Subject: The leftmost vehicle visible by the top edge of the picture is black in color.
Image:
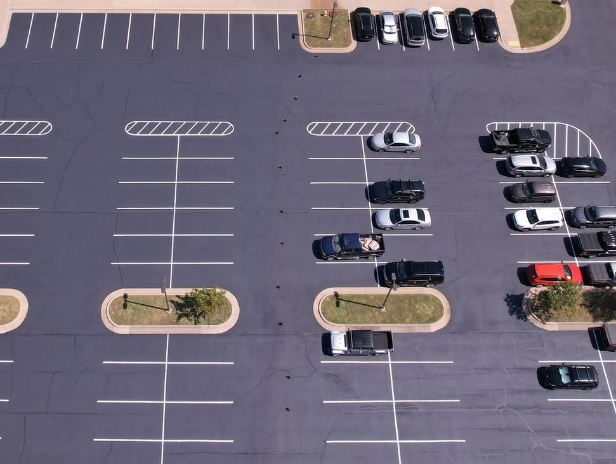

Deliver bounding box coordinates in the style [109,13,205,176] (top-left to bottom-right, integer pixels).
[352,6,375,43]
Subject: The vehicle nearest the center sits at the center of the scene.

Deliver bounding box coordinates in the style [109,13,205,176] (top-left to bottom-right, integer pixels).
[321,232,384,258]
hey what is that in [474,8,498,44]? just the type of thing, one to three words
car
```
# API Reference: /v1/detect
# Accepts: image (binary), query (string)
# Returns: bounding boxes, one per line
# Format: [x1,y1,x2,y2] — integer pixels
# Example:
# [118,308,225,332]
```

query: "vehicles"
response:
[538,362,599,391]
[376,206,429,231]
[382,258,445,287]
[567,203,616,228]
[503,180,561,205]
[327,327,396,356]
[371,131,421,153]
[452,8,477,43]
[474,8,498,44]
[555,156,608,178]
[371,178,425,203]
[378,10,400,45]
[321,232,384,258]
[403,10,426,46]
[503,152,557,177]
[352,6,375,43]
[426,7,448,42]
[572,231,616,257]
[489,127,551,153]
[598,324,616,352]
[510,206,565,231]
[579,261,616,288]
[526,259,580,287]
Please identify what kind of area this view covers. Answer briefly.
parking lot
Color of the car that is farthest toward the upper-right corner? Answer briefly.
black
